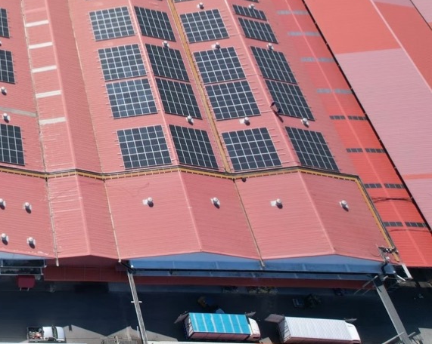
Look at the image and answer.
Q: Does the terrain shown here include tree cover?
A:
No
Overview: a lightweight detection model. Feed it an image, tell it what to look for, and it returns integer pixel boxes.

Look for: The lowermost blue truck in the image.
[177,313,264,344]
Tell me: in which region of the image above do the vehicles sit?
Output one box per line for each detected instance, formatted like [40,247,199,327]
[270,318,364,344]
[177,313,264,344]
[25,326,68,344]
